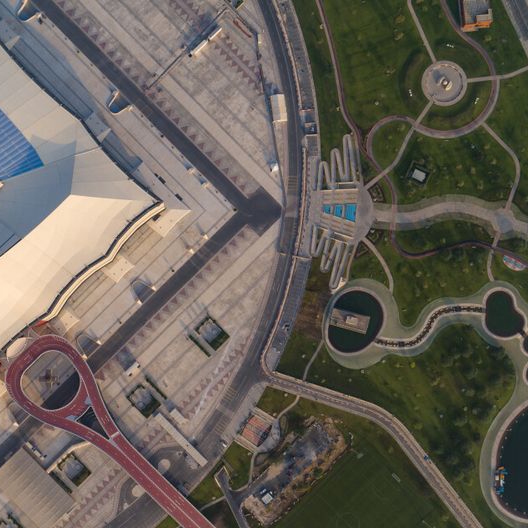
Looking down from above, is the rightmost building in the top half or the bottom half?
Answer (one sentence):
The rightmost building is in the top half of the image.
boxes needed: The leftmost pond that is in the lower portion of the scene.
[330,292,382,350]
